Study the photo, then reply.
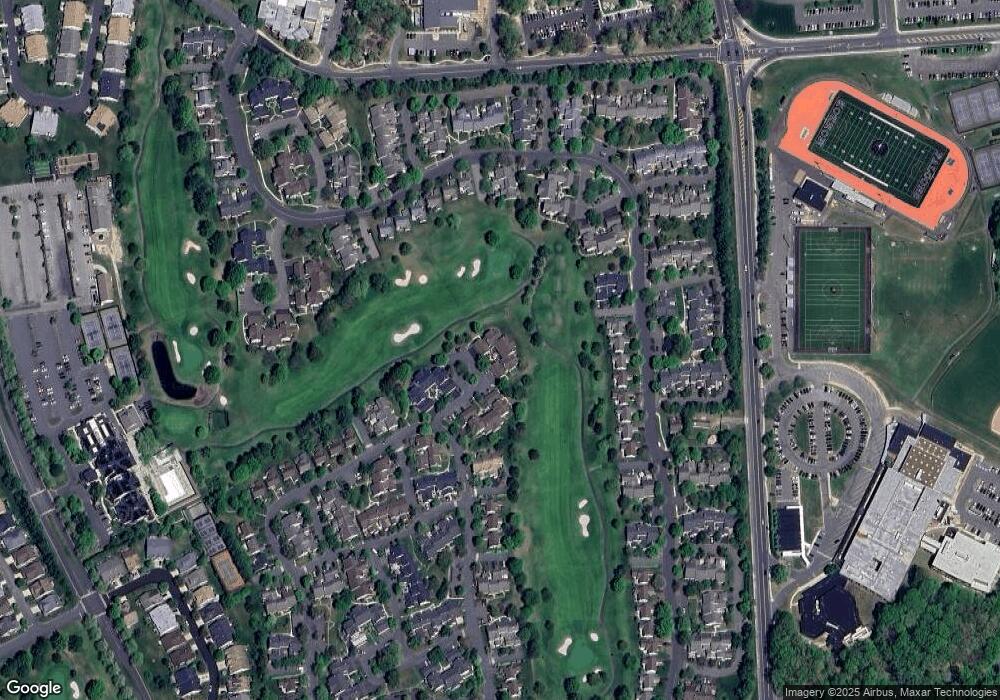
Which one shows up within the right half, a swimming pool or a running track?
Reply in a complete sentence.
The feature located within the right half is a running track.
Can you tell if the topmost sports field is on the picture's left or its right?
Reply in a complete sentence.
It is on the right.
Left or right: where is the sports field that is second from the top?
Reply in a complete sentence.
It is on the right.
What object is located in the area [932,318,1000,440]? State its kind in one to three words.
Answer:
sports field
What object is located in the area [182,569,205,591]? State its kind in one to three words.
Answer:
house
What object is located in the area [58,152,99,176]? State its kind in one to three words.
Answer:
building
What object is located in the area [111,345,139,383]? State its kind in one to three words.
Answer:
tennis court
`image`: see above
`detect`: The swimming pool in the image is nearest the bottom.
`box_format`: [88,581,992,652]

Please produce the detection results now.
[159,469,186,503]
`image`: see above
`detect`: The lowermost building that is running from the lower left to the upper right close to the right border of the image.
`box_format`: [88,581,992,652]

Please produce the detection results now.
[801,422,973,650]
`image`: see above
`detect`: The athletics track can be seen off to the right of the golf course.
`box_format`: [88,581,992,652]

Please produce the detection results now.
[778,80,968,228]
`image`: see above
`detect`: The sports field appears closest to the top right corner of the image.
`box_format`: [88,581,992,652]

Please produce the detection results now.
[809,91,949,207]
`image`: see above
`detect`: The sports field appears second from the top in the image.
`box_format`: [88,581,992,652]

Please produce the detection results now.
[794,226,871,353]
